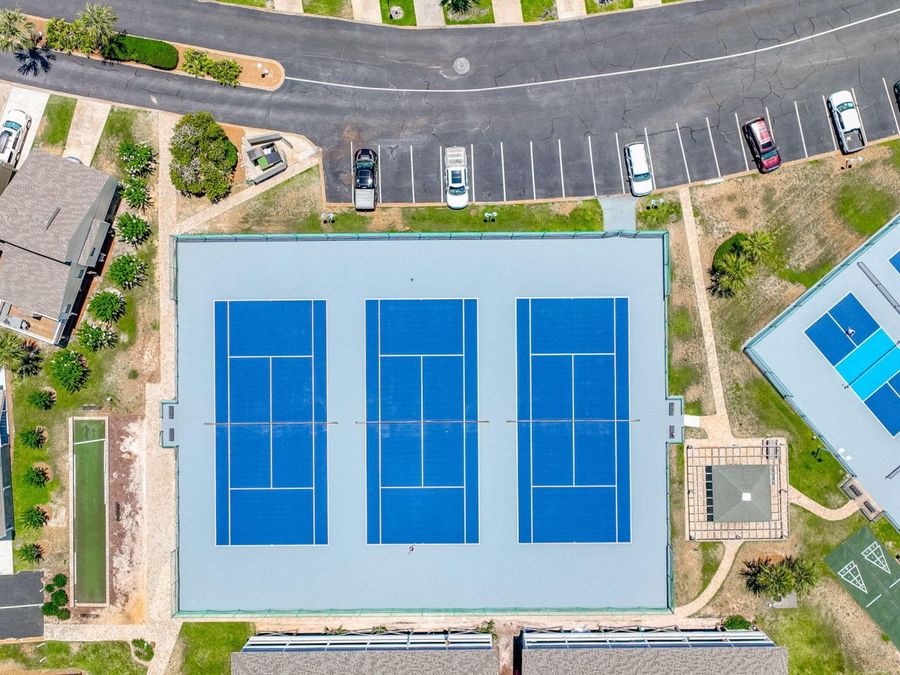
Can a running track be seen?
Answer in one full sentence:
No, I find no running track anywhere in the image.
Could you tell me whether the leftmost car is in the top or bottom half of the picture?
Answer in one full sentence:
You can find the leftmost car in the top half.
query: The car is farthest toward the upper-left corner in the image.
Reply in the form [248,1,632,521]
[0,112,33,164]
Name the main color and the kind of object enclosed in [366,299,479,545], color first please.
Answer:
blue tennis court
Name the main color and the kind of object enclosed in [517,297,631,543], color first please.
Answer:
blue tennis court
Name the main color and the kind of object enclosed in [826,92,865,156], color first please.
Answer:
white truck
